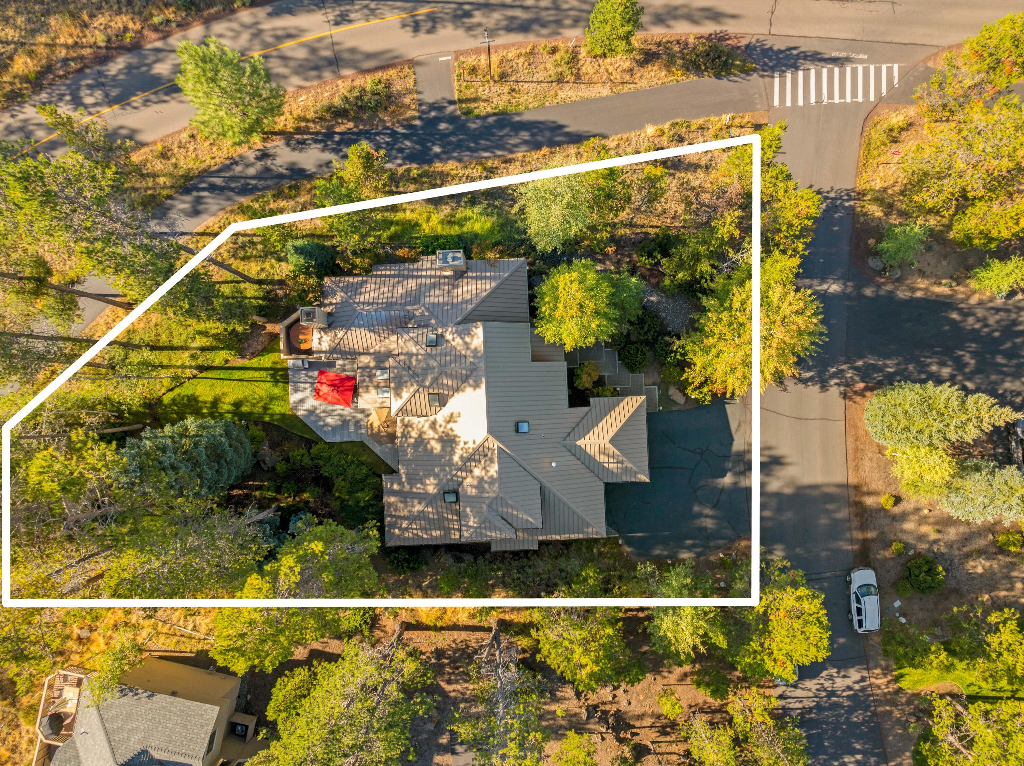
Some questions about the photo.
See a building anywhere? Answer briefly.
Yes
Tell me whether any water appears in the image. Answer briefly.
No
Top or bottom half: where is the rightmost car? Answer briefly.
bottom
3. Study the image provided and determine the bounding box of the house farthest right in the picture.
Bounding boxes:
[299,249,652,553]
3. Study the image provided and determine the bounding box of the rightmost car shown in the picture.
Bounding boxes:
[848,567,884,636]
